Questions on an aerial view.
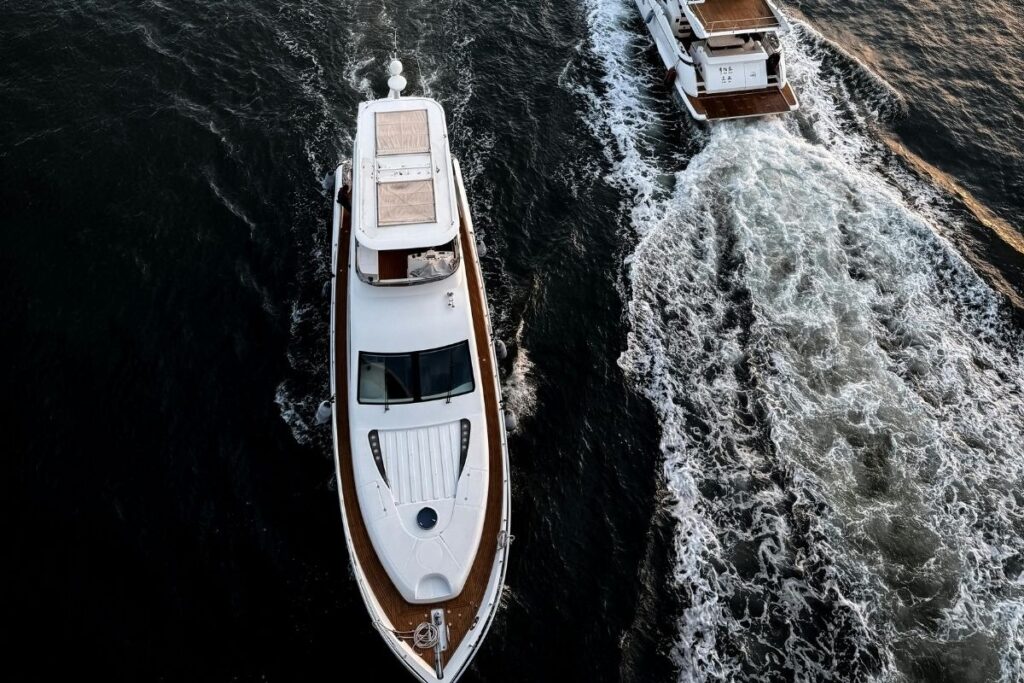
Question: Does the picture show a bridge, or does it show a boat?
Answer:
boat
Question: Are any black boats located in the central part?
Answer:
No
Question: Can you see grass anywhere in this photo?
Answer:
No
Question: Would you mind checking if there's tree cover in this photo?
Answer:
No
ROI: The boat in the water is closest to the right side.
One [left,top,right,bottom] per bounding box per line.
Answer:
[630,0,799,122]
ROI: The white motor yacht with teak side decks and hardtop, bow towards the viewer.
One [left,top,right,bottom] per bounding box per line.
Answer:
[332,30,513,683]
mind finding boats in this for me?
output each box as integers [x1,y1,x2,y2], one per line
[332,30,513,683]
[630,0,799,122]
